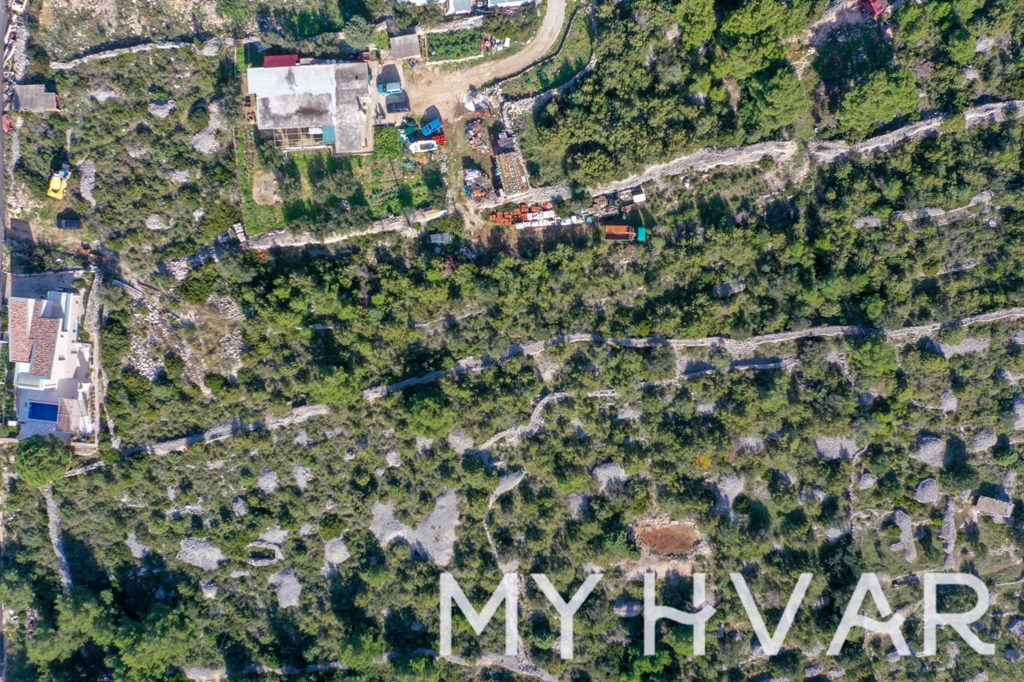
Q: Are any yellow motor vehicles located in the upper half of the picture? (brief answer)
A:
Yes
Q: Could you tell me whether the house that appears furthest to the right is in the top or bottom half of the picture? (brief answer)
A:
bottom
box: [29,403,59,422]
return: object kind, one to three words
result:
swimming pool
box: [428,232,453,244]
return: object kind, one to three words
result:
vehicle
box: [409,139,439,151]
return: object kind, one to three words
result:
boat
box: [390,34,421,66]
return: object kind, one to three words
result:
building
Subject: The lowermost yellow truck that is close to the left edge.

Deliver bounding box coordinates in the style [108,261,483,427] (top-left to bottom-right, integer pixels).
[48,163,75,202]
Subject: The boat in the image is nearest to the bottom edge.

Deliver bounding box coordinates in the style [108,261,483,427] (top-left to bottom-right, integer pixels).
[419,210,447,223]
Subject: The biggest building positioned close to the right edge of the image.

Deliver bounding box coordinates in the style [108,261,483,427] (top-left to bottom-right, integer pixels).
[967,494,1014,523]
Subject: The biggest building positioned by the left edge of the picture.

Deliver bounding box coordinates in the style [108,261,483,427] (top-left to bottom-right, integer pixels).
[9,292,91,392]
